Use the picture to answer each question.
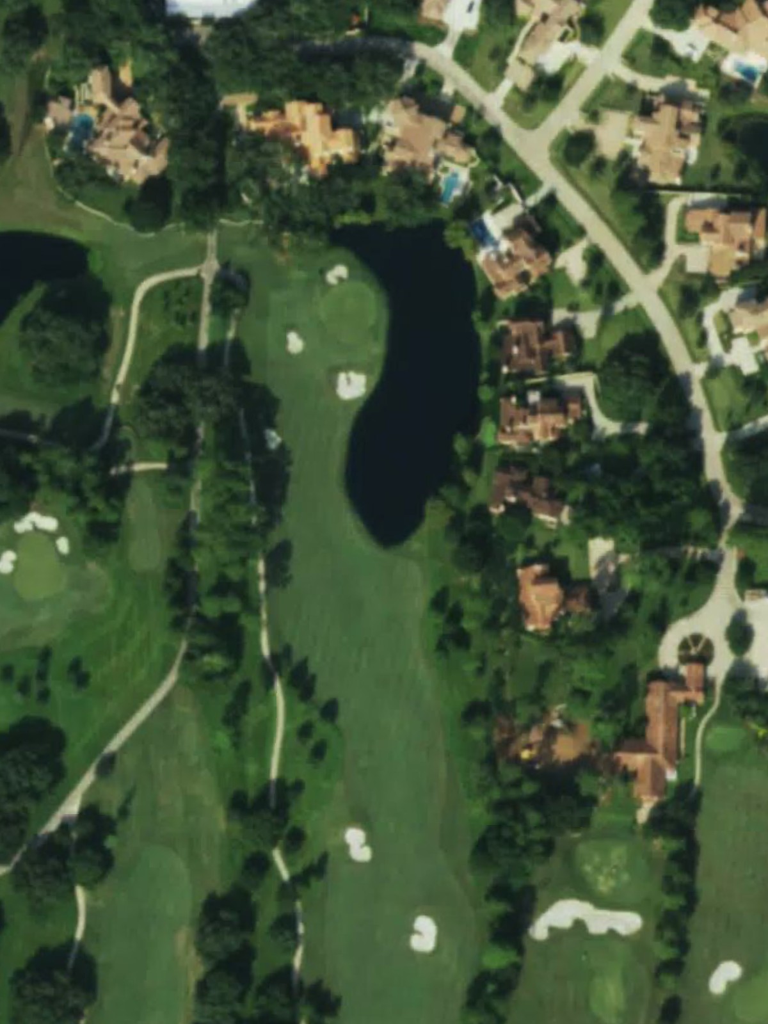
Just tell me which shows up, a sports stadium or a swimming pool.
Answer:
swimming pool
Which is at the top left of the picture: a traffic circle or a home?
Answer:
home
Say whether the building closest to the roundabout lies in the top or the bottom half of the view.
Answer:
bottom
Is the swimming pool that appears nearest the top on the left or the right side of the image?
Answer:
right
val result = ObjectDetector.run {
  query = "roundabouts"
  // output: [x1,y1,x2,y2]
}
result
[677,632,714,666]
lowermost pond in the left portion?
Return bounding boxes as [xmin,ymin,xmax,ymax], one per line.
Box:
[0,232,89,322]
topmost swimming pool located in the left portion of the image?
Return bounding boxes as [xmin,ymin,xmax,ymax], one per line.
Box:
[63,105,97,155]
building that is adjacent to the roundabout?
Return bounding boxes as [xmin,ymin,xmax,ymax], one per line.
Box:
[616,663,709,802]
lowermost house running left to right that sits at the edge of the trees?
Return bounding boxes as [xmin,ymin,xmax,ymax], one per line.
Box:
[491,714,592,766]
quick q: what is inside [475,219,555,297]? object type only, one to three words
house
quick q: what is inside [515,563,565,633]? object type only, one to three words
house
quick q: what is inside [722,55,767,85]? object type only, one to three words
swimming pool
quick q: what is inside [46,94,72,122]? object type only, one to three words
building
